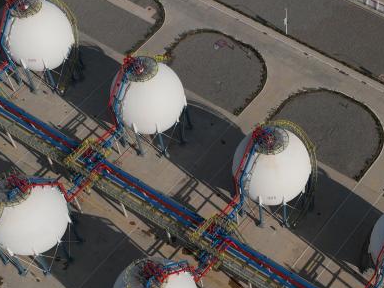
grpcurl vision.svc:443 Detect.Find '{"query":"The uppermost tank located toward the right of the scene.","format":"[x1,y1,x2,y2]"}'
[221,119,317,226]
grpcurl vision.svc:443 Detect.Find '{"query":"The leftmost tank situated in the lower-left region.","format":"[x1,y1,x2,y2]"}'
[0,171,89,275]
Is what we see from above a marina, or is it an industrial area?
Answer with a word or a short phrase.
industrial area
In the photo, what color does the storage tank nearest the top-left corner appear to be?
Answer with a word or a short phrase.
white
